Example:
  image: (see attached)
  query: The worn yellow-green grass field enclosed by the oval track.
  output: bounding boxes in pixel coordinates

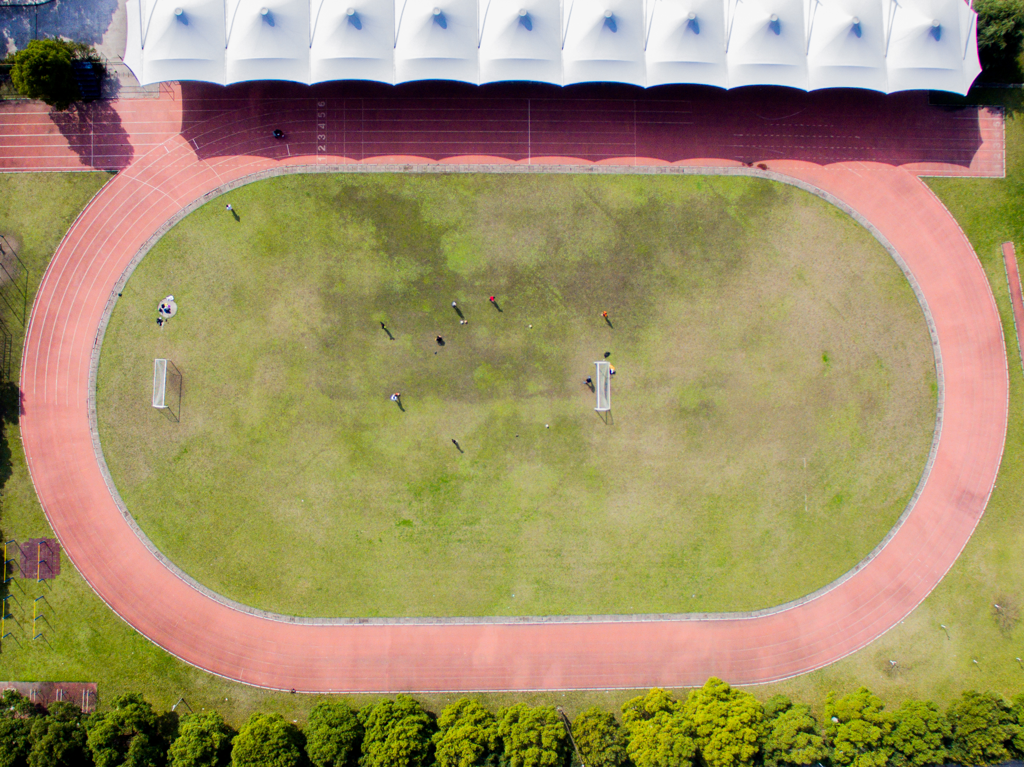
[96,172,937,617]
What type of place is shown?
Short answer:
sports ground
